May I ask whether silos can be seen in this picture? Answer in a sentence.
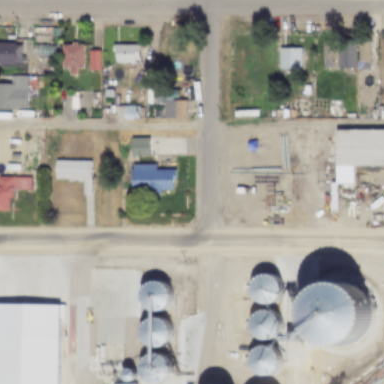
Yes, looking at the shot, I can spot a silo.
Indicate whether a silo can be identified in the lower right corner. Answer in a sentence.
Yes, you'll find a silo in the lower right corner.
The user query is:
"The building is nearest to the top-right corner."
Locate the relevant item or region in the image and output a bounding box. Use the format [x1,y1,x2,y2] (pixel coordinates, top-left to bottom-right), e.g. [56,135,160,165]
[324,42,359,69]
